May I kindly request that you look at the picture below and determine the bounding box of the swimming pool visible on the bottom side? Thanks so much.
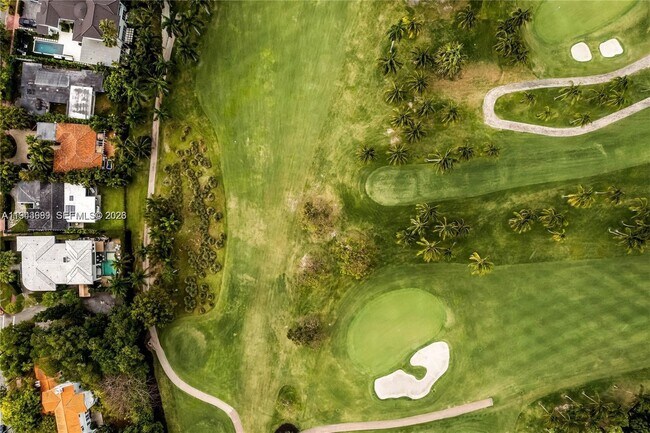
[101,251,116,276]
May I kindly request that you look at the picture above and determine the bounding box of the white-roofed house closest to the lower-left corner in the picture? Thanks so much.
[17,236,102,297]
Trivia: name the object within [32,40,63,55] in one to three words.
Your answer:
swimming pool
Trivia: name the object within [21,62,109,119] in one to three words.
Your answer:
house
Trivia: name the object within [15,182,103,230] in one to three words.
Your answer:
house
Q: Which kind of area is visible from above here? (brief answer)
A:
golf course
